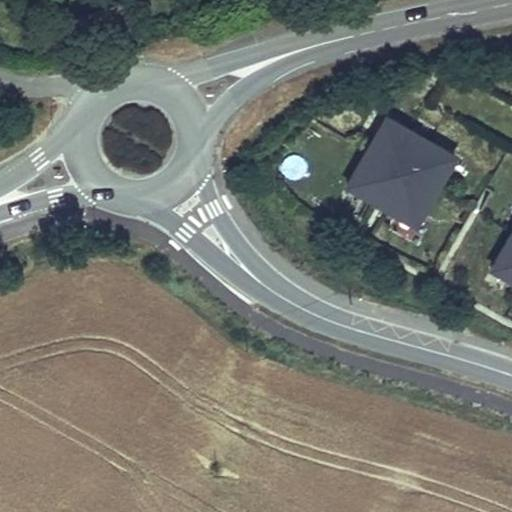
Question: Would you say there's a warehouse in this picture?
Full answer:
No, this view has no warehouse in it.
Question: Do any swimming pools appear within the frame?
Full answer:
Yes, there is a swimming pool in the image.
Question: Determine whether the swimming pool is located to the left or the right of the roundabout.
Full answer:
Relative to the roundabout, the swimming pool is on the right.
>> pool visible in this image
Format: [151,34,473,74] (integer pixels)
[276,152,310,182]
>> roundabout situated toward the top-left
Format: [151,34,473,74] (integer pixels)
[61,62,215,216]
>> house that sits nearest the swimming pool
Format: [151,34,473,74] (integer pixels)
[345,116,457,228]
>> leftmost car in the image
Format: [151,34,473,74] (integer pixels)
[8,201,31,214]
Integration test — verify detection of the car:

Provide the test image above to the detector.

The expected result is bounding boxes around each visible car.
[405,8,427,20]
[92,190,114,200]
[8,201,31,214]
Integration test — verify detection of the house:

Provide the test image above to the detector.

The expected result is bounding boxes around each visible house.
[489,232,512,282]
[345,116,457,228]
